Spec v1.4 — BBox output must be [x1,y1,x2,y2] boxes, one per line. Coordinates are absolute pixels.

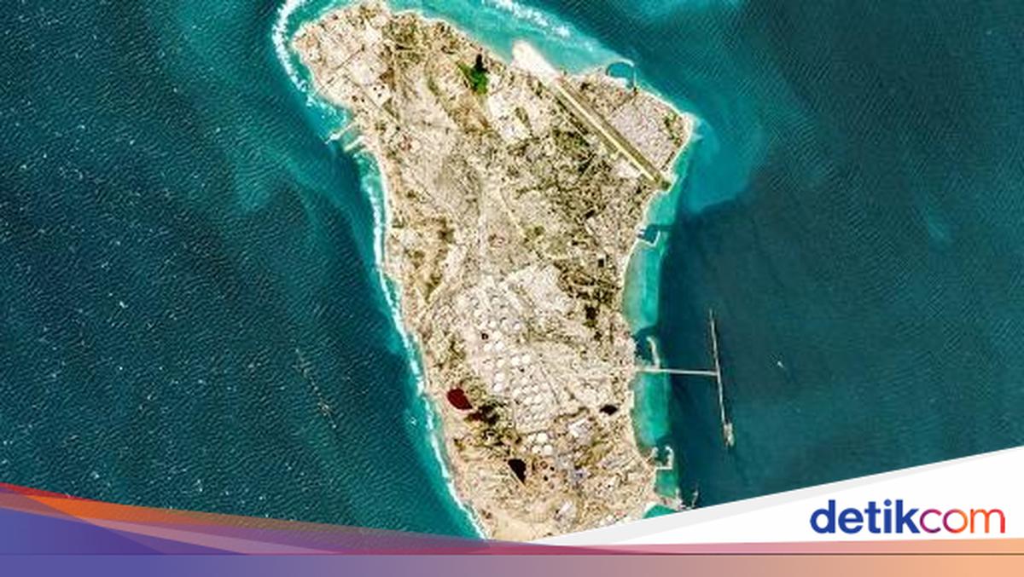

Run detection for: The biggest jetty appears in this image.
[635,309,727,440]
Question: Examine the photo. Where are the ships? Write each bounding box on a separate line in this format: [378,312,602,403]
[725,425,731,446]
[728,423,735,446]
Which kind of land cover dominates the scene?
water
